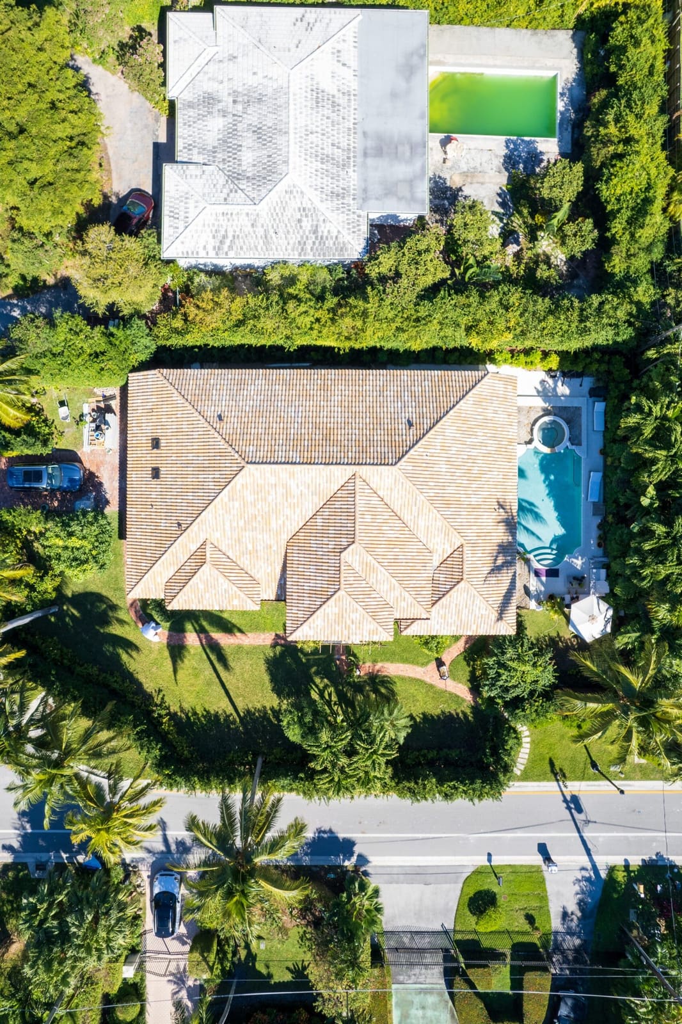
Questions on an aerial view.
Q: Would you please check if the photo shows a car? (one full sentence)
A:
Yes, the image includes a car.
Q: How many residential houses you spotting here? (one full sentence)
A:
There are 2 residential houses in the image.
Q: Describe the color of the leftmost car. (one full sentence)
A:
From above, the leftmost car appears blue.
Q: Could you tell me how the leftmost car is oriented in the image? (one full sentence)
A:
From this overhead view, the leftmost car appears to run horizontally.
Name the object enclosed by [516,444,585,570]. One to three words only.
swimming pool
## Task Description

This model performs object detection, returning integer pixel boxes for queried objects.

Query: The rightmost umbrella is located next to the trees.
[569,595,612,643]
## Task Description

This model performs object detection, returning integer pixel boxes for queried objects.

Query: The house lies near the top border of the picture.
[160,4,430,272]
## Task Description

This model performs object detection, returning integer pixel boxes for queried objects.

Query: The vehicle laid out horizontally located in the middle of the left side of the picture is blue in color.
[9,459,88,494]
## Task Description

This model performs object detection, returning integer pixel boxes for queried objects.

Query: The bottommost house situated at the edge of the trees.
[125,368,518,642]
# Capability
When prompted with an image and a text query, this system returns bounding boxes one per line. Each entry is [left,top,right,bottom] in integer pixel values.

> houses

[160,4,430,272]
[125,368,518,642]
